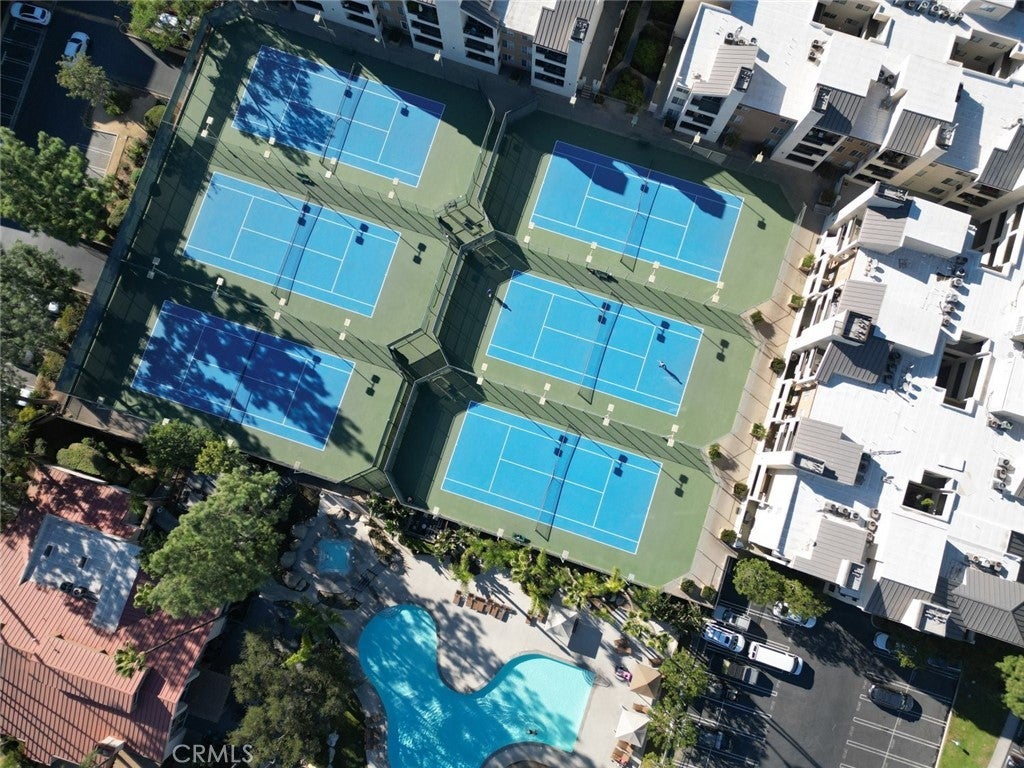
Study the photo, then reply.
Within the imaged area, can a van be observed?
Yes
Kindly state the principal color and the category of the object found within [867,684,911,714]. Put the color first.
black car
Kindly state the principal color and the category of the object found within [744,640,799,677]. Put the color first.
white van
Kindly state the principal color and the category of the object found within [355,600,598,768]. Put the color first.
blue swimming pool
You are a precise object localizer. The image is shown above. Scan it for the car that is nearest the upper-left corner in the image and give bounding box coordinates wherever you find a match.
[11,2,53,28]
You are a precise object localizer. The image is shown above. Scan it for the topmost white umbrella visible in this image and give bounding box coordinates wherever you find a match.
[543,604,579,644]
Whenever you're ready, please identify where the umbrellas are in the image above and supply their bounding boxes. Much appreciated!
[543,604,579,644]
[614,708,650,746]
[629,663,662,698]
